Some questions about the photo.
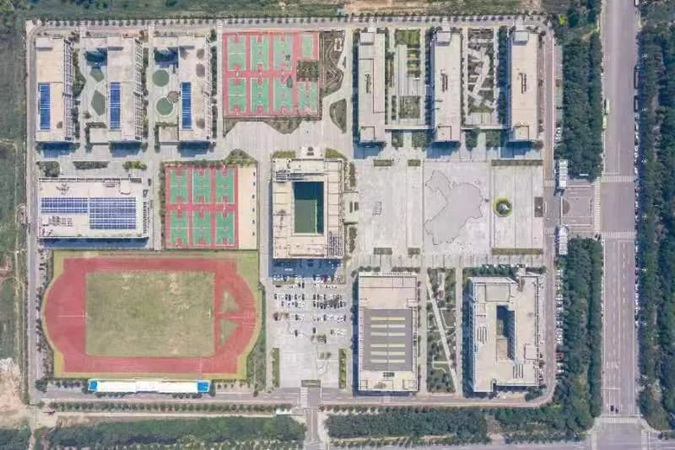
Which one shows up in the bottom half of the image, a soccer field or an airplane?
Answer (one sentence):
Visible in the bottom half of the image is a soccer field.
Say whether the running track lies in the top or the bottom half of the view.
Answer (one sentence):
It is in the bottom half that the running track appears.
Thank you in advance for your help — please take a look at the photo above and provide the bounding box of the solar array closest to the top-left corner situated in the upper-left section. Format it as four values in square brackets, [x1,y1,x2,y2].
[38,83,50,128]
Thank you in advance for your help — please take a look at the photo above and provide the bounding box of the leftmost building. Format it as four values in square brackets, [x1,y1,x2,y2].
[35,37,76,144]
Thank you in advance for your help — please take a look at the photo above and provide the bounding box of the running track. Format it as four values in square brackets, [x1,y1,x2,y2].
[40,252,261,379]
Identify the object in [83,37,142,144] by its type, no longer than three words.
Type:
building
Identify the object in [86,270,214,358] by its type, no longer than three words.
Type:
soccer field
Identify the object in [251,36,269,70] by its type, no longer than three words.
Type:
basketball court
